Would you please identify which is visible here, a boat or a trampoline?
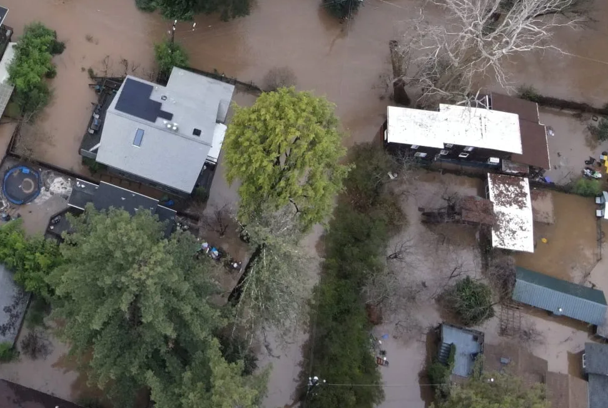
trampoline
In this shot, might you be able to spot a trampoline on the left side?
Yes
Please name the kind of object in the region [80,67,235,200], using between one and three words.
house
